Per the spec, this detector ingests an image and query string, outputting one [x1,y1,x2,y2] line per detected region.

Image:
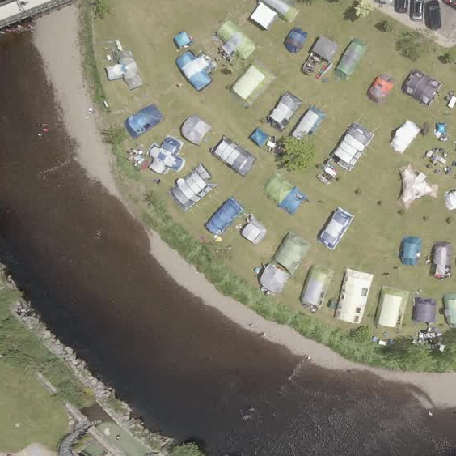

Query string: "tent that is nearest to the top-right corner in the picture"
[399,66,449,107]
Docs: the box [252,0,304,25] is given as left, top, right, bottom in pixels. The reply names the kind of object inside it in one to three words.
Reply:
tent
